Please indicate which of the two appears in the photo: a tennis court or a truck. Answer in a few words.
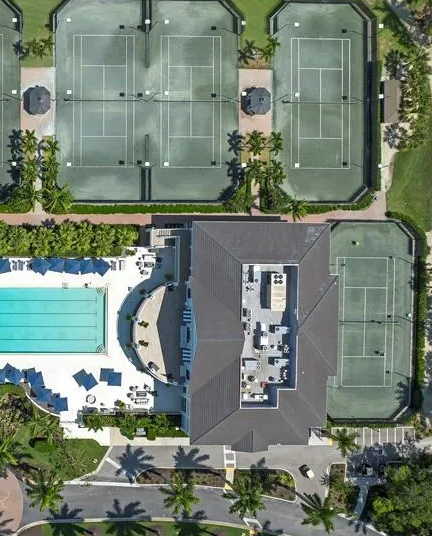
tennis court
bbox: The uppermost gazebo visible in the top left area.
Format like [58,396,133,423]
[25,88,50,114]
